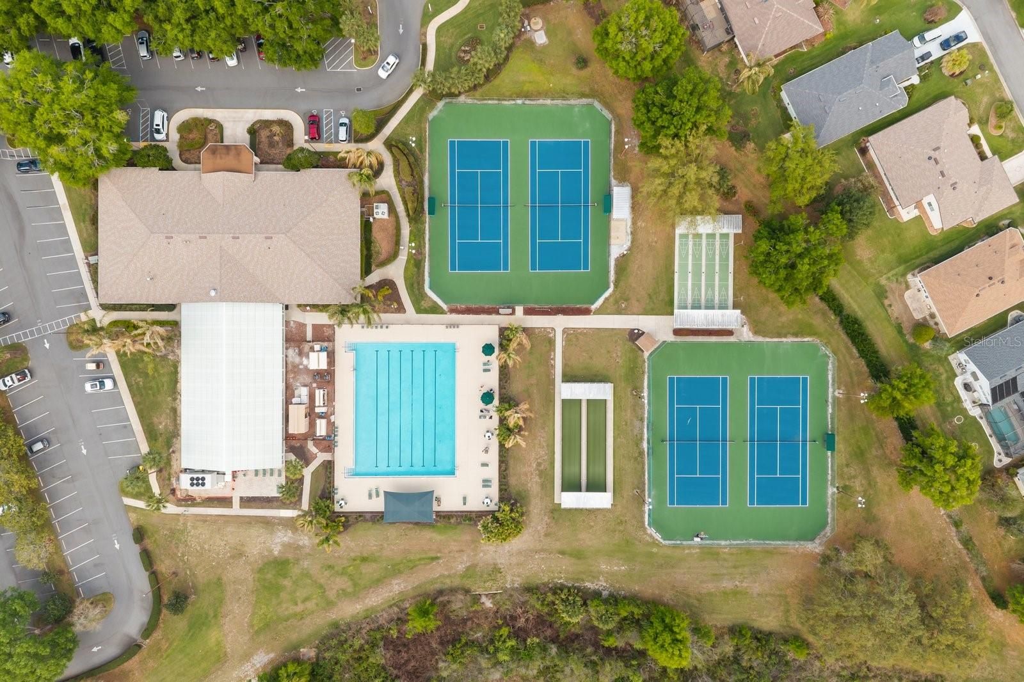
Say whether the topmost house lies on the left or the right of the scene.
right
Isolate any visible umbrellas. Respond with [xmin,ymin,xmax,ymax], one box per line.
[481,391,494,405]
[482,343,495,356]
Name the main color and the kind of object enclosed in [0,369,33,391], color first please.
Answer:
white truck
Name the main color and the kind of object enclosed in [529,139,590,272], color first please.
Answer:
blue tennis court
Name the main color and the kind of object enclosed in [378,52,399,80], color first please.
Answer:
white car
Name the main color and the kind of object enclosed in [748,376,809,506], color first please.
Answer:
blue tennis court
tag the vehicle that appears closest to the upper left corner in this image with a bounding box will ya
[1,46,19,73]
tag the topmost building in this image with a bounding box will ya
[716,0,824,67]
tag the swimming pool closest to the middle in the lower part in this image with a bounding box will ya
[335,324,498,512]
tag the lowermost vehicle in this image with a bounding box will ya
[27,437,53,456]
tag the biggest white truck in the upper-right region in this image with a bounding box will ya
[911,27,943,49]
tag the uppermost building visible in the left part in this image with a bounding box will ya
[98,144,363,304]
